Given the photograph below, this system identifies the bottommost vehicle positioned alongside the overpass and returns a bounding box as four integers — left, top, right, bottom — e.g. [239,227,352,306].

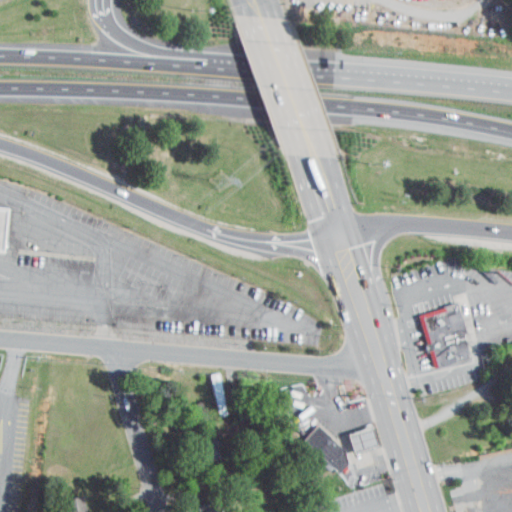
[307,152,326,191]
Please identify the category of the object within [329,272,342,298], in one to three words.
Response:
vehicle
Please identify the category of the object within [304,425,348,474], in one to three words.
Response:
building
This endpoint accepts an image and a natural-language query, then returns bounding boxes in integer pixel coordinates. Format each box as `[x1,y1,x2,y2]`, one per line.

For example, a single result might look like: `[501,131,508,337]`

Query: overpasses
[234,16,338,158]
